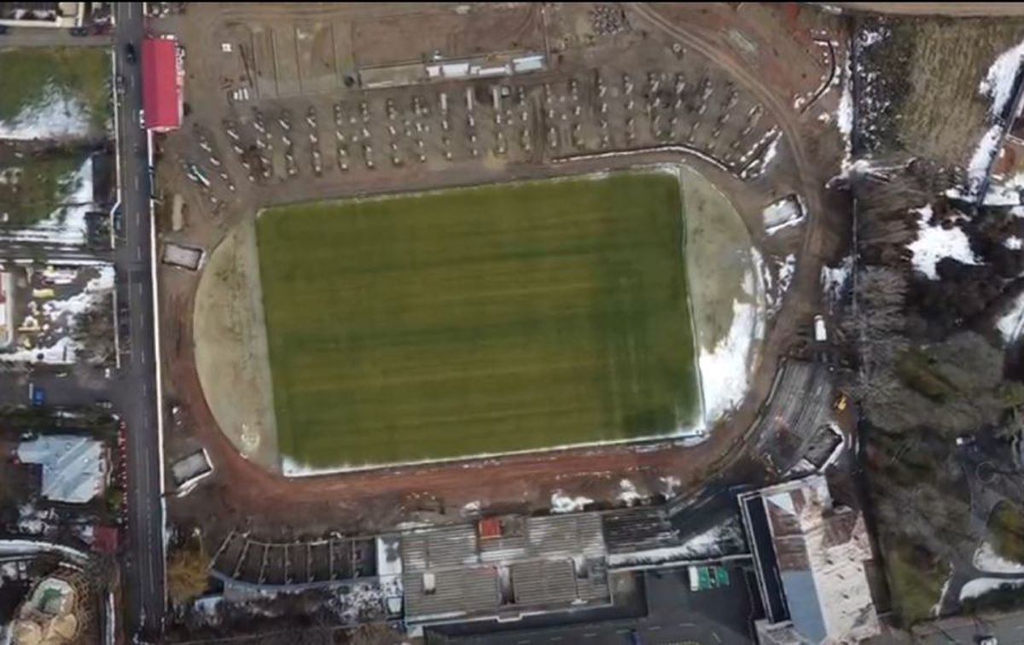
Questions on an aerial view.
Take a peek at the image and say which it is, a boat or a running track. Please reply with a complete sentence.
I can see a running track in this picture.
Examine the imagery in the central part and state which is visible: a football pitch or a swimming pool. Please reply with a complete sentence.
Looking in the central part, you will find a football pitch.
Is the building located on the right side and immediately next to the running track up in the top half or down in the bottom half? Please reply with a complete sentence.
It is in the bottom half that the building located on the right side and immediately next to the running track appears.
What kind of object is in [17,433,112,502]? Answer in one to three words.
house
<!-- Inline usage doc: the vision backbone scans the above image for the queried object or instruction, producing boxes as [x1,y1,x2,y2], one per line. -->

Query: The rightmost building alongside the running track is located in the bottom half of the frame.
[748,474,880,642]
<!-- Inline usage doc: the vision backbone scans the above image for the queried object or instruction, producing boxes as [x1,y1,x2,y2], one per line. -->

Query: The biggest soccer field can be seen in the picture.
[258,168,707,477]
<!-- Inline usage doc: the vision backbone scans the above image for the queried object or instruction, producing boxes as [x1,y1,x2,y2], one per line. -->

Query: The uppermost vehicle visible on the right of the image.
[814,316,829,342]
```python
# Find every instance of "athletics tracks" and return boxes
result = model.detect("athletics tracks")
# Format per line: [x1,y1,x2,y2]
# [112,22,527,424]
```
[169,154,799,507]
